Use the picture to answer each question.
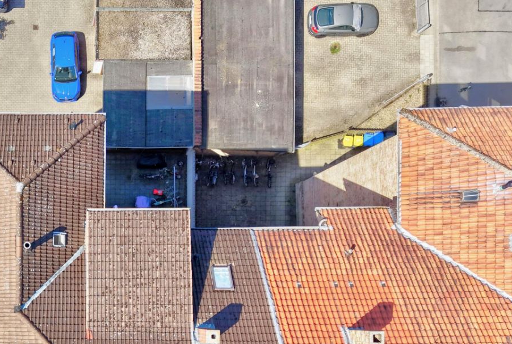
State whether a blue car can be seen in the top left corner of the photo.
Yes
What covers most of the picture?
buildings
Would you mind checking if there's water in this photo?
No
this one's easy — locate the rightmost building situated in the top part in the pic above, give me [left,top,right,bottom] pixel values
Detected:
[196,0,296,158]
